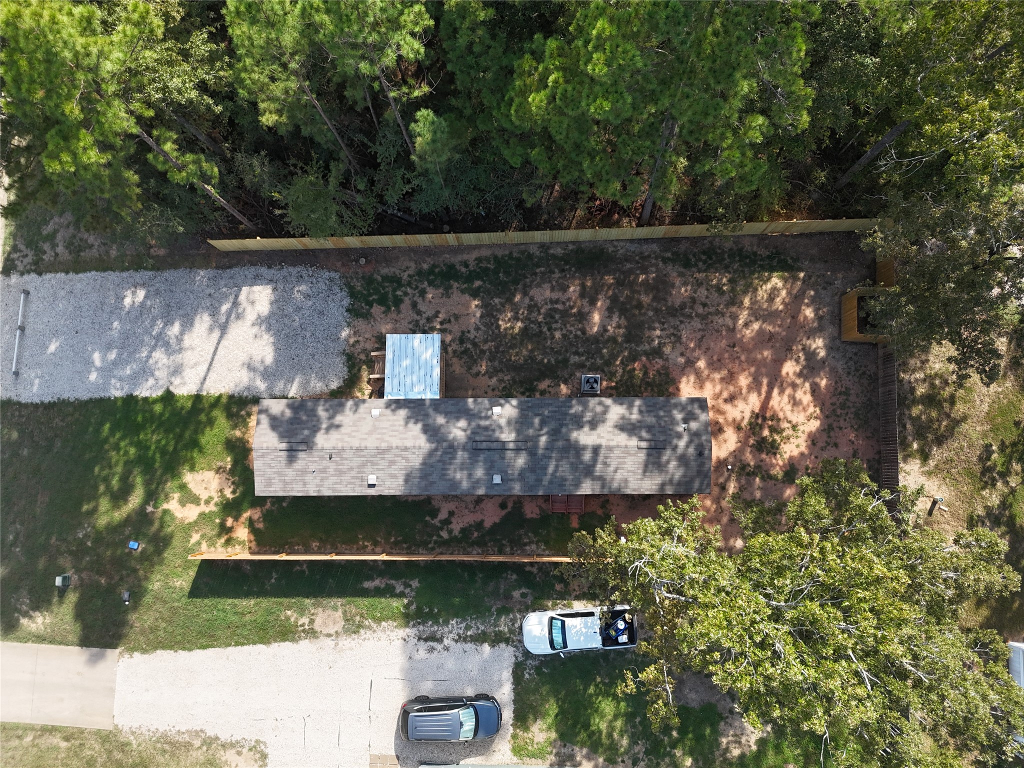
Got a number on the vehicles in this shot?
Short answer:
2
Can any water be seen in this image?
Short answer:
No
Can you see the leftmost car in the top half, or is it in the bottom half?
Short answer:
bottom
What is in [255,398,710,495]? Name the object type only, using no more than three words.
house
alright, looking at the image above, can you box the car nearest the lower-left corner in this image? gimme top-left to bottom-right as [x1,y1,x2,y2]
[398,688,504,745]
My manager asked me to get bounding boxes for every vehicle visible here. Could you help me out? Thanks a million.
[518,602,642,661]
[398,688,504,745]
